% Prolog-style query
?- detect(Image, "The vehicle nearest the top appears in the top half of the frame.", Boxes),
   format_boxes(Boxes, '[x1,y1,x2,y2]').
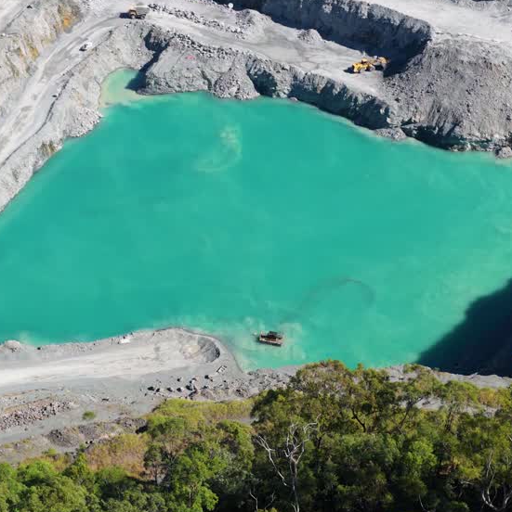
[128,3,152,20]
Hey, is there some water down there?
Yes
